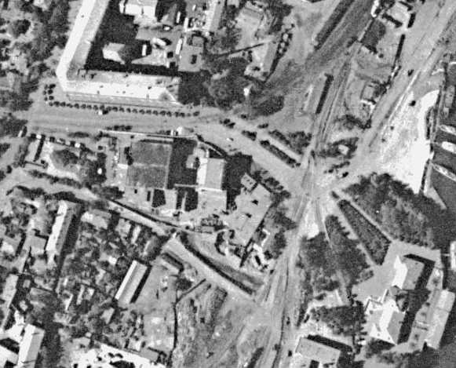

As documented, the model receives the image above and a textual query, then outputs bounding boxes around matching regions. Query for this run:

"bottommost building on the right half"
[294,336,343,368]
